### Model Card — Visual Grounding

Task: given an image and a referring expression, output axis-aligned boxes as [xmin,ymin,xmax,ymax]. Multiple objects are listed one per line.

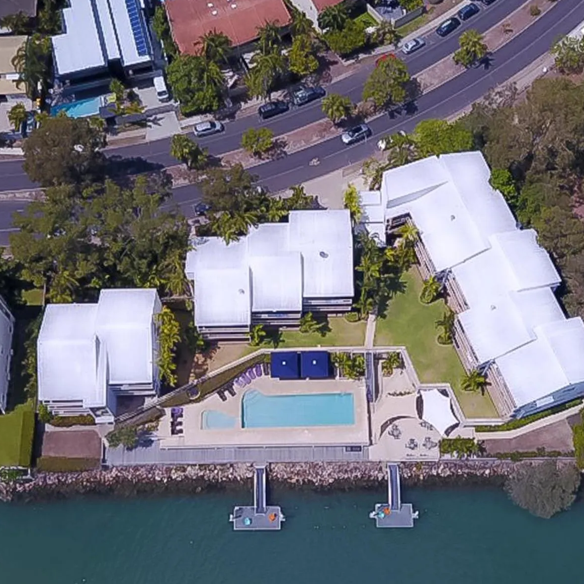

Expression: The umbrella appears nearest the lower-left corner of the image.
[269,352,299,380]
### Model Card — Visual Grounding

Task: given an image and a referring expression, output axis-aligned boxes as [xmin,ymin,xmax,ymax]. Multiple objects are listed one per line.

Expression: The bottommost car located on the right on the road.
[343,127,371,145]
